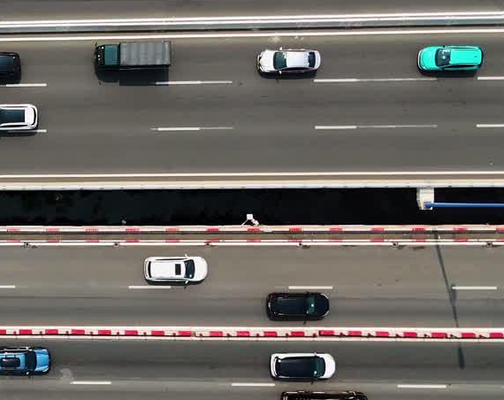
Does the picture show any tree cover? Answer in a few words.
No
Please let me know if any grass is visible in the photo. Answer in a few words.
No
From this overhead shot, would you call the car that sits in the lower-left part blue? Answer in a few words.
Yes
